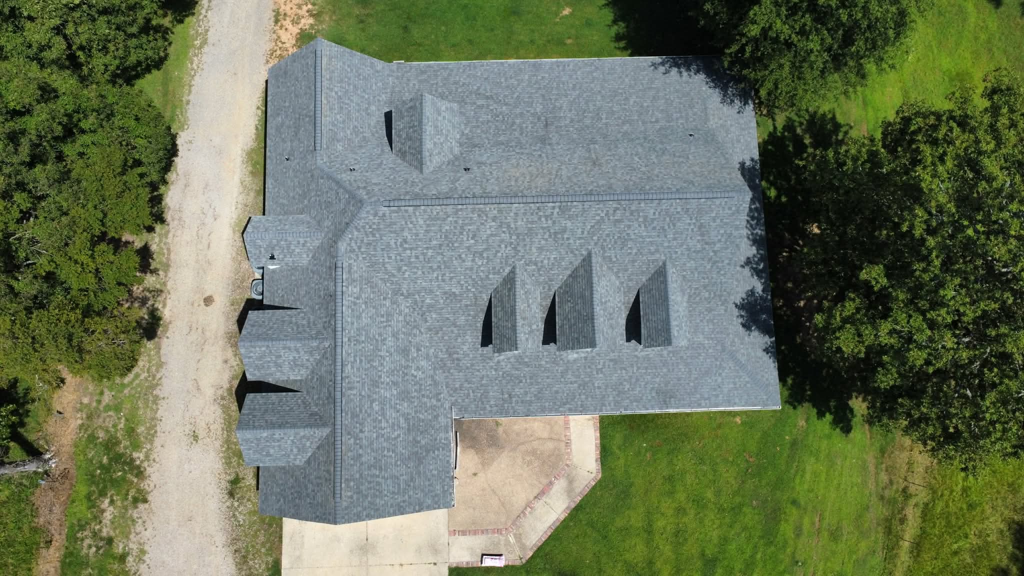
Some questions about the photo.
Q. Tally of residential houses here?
1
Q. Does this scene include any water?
No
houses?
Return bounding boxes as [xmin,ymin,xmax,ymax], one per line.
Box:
[235,38,782,524]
